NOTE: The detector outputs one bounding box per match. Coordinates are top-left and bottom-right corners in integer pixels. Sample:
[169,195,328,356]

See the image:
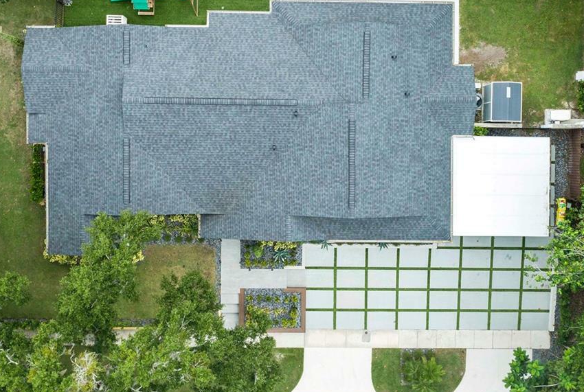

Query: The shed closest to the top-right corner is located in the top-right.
[482,82,522,124]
